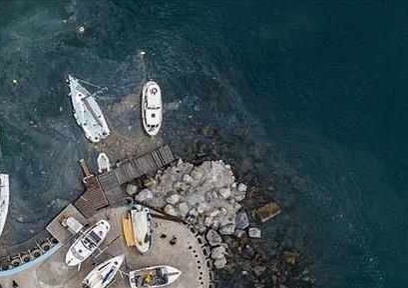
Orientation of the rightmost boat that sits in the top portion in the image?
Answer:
from top to bottom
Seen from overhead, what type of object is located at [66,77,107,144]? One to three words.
boat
